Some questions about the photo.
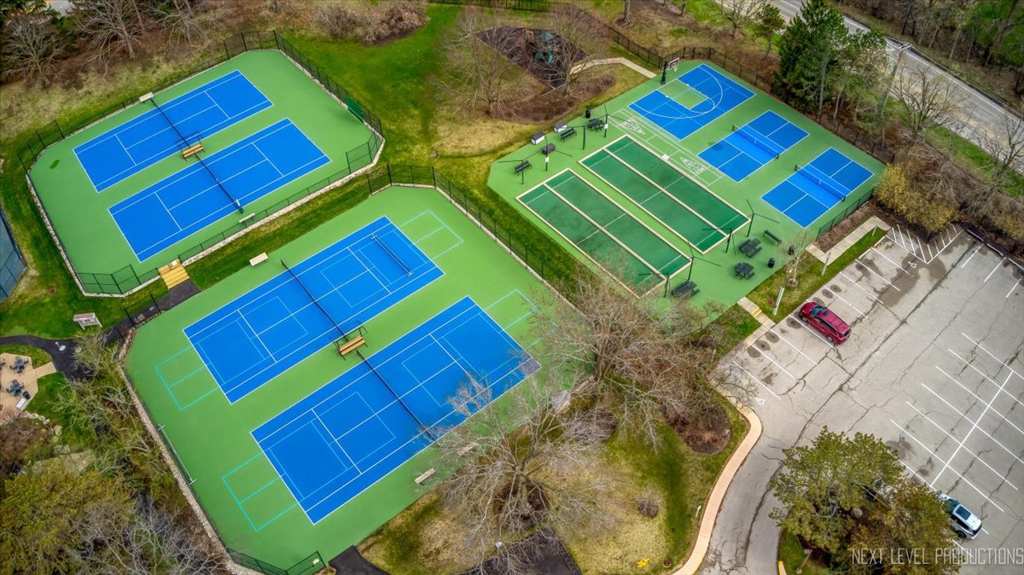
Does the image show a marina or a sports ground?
sports ground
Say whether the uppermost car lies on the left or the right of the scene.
right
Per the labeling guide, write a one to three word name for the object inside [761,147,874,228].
sports court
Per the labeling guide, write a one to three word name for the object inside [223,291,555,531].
tennis court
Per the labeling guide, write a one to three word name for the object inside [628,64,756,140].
basketball court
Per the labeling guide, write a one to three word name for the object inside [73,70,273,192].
tennis court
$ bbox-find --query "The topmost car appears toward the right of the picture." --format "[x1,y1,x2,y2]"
[798,305,855,348]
